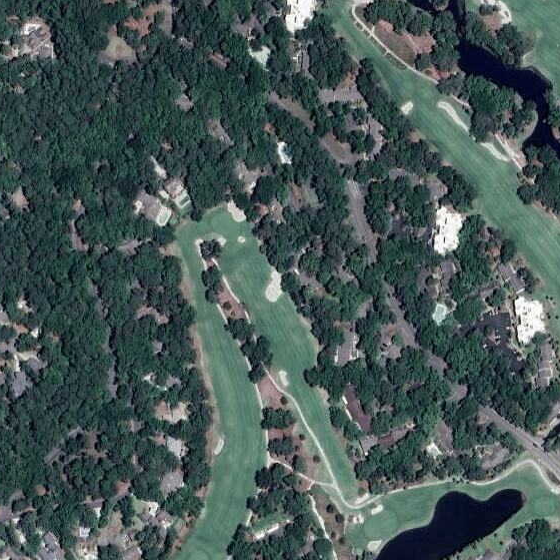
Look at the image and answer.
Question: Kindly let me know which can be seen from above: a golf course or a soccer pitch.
golf course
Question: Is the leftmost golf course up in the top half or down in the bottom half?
bottom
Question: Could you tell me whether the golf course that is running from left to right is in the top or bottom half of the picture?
bottom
